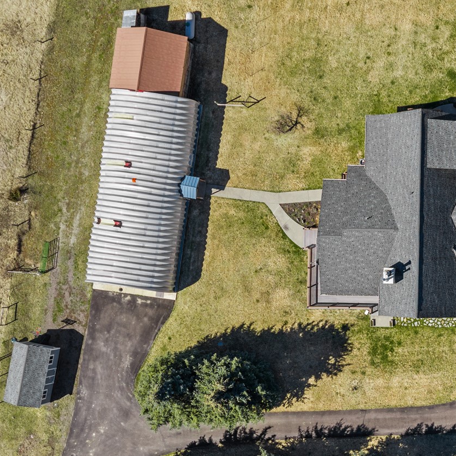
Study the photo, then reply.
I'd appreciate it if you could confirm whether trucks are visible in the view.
No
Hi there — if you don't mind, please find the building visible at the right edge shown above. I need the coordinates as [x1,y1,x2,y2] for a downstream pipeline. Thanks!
[319,108,456,318]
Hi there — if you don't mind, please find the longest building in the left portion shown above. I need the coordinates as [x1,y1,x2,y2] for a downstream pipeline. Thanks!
[83,88,205,293]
